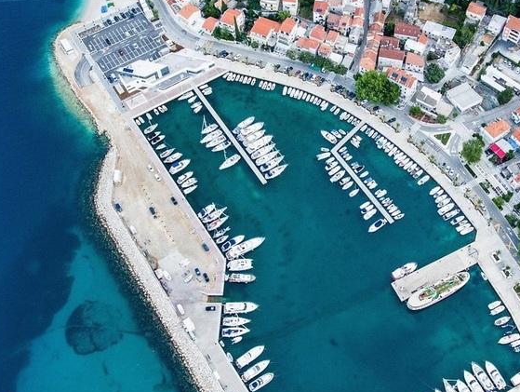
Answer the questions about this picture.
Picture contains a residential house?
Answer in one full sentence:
Yes, the photo shows a residential house.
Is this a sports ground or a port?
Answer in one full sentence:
This image shows a port.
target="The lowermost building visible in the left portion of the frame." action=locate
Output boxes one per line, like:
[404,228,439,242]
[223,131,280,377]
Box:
[117,59,216,93]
